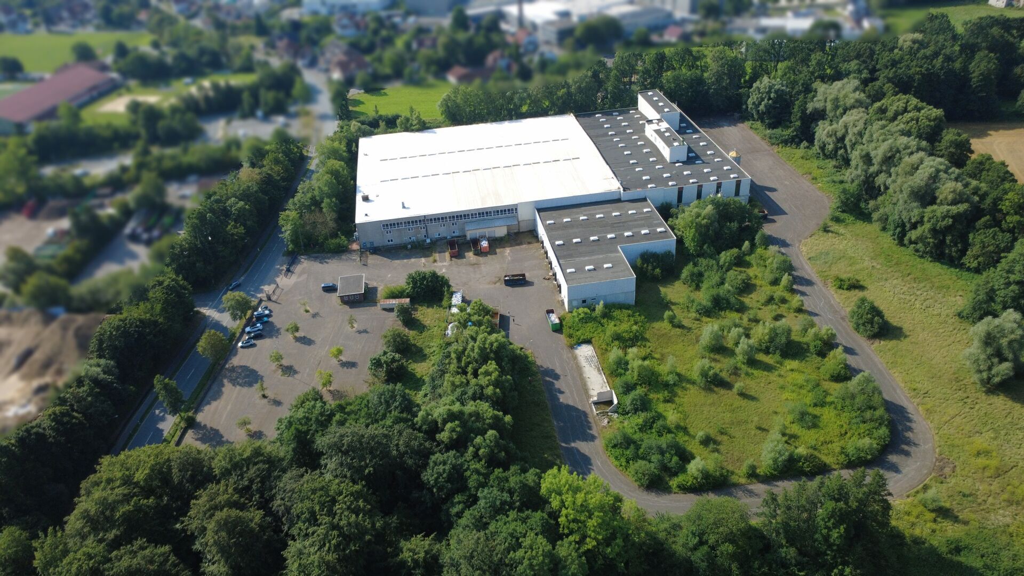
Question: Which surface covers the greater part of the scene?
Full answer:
For the most part, this view shows trees.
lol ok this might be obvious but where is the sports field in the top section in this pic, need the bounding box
[0,33,155,73]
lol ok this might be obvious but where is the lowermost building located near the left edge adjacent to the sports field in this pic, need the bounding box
[0,64,118,127]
